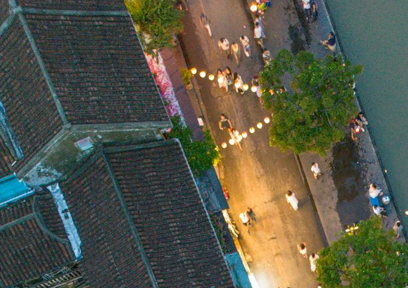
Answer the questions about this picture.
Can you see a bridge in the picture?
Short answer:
No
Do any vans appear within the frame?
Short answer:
No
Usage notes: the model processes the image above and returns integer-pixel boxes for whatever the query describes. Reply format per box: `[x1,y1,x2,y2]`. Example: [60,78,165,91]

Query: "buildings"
[57,138,238,288]
[0,8,200,179]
